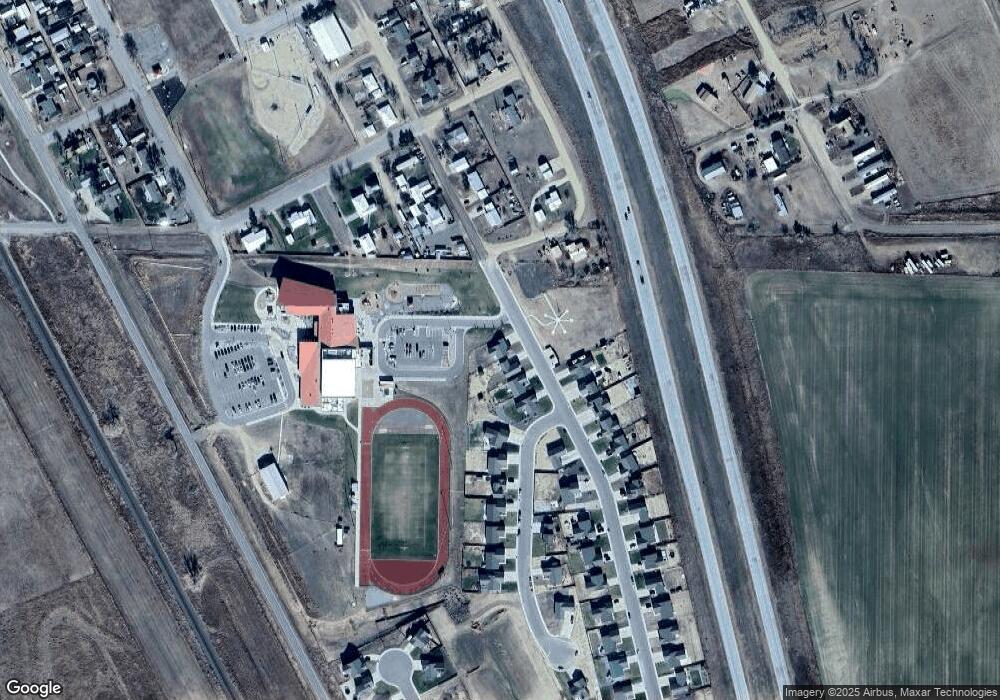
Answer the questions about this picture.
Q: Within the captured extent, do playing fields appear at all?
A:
Yes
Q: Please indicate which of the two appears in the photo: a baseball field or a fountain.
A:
baseball field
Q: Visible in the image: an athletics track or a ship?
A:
athletics track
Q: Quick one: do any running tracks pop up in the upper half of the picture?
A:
No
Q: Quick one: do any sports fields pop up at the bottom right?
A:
No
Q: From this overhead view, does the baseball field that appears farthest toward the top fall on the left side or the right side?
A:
left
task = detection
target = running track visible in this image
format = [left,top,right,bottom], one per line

[361,397,449,596]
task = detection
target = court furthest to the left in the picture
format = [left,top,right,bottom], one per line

[152,76,186,115]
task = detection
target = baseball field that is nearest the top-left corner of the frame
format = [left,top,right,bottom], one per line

[247,25,325,154]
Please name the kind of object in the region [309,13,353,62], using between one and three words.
building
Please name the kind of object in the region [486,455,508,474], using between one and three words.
house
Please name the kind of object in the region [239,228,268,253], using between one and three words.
house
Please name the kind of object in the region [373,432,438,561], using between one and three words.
sports field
